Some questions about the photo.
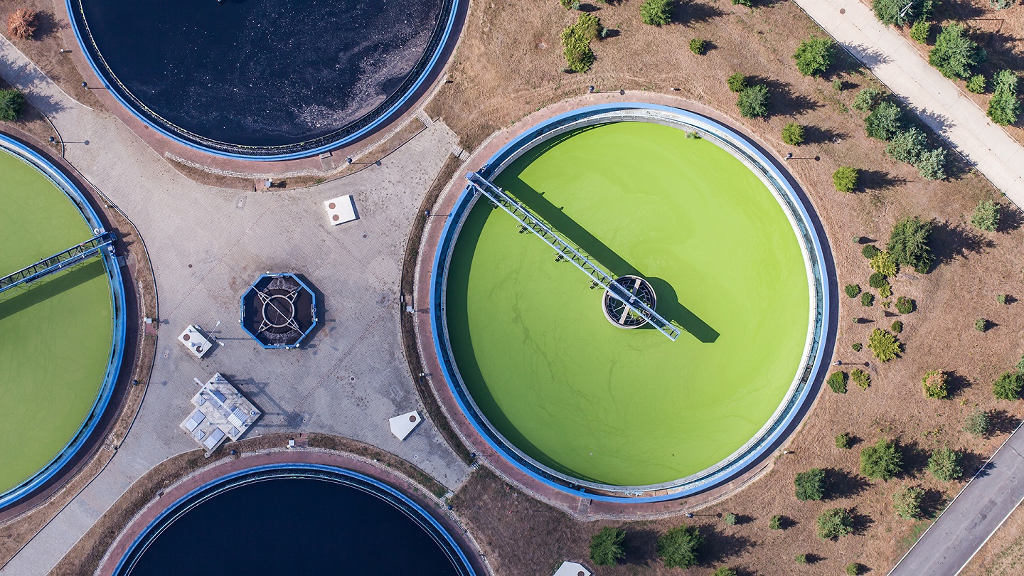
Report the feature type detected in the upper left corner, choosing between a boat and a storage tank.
storage tank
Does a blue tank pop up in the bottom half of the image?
Yes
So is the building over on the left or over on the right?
left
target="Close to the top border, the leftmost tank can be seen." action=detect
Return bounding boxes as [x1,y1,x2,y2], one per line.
[65,0,459,162]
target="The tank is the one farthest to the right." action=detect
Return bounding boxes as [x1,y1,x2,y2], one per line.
[430,103,830,503]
